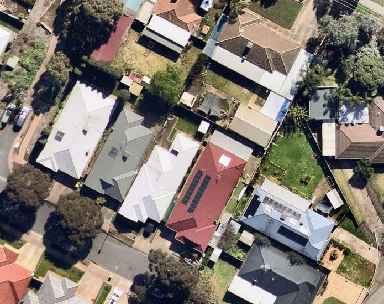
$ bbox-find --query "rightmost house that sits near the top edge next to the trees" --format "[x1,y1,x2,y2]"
[204,7,314,100]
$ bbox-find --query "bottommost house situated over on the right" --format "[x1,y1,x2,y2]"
[229,240,326,304]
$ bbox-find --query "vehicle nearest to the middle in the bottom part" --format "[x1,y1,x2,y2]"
[142,219,156,240]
